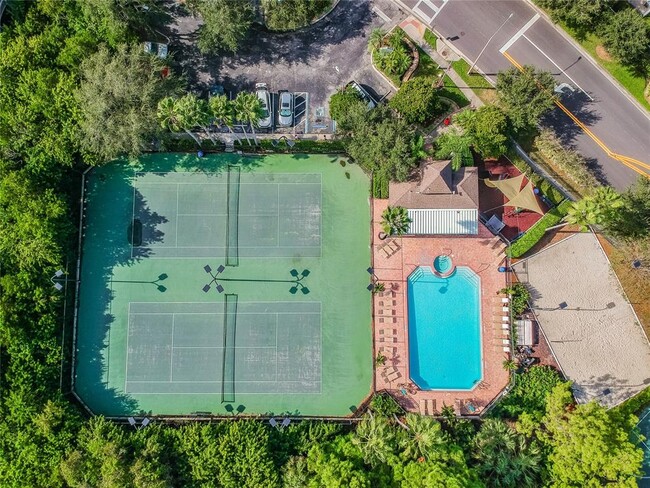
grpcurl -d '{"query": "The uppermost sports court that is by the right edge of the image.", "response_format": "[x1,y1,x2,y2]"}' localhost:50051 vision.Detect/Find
[512,230,650,419]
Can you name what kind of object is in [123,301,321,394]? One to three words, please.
tennis court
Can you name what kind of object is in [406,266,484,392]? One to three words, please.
swimming pool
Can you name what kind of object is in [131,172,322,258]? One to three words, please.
tennis court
